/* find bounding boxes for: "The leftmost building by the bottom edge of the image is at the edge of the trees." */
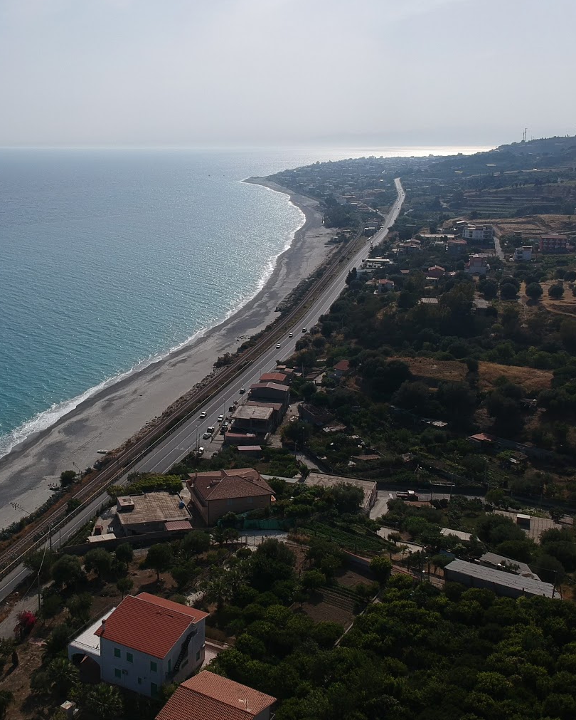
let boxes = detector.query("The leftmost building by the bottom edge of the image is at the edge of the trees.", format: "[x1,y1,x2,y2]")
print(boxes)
[72,595,202,701]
